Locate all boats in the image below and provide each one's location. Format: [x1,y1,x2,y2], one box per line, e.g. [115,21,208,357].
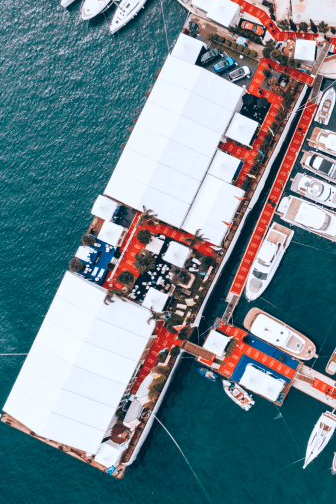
[302,412,336,469]
[245,309,320,361]
[314,88,336,127]
[222,381,256,412]
[197,368,220,382]
[102,0,146,35]
[81,0,114,21]
[325,349,336,375]
[298,153,336,186]
[287,174,336,209]
[303,129,336,158]
[275,196,336,243]
[246,225,293,302]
